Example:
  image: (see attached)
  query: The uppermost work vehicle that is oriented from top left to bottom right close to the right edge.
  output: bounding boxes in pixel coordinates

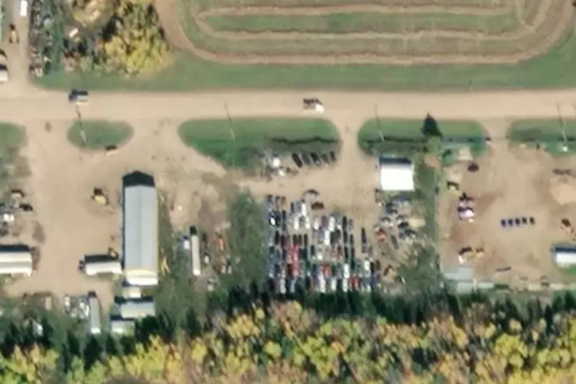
[559,216,576,237]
